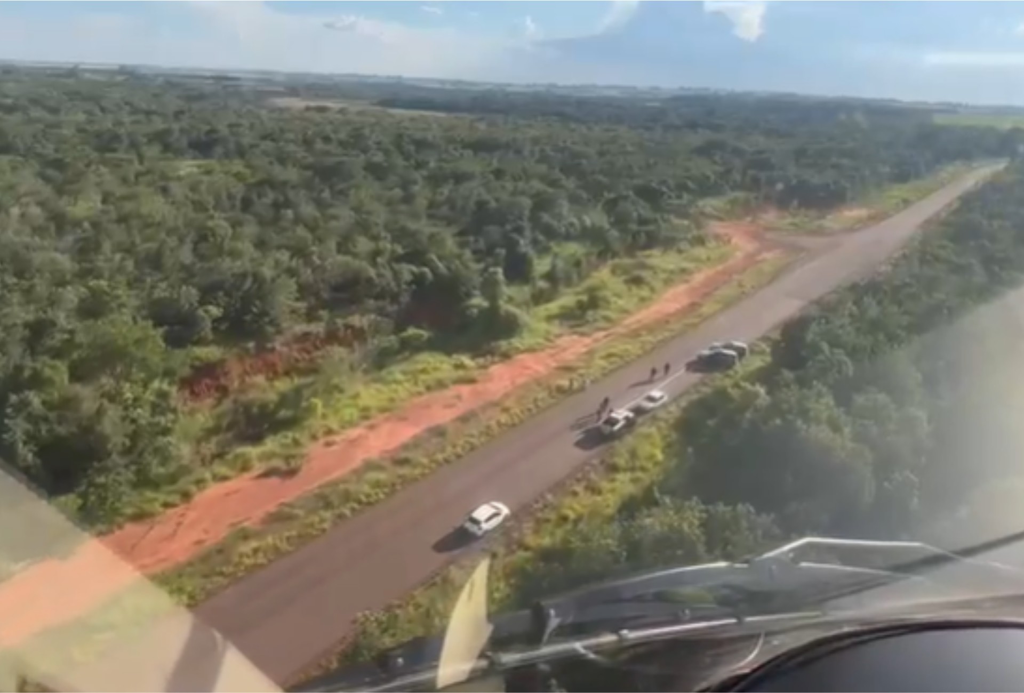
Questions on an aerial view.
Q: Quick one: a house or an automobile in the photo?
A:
automobile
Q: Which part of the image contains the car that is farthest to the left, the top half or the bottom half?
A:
bottom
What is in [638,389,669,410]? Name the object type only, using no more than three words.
car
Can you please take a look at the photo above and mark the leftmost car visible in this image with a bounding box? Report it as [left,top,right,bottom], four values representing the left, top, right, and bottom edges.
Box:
[462,500,512,534]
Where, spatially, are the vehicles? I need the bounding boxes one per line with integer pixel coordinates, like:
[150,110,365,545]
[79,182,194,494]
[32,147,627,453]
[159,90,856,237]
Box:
[462,500,512,534]
[638,389,669,410]
[709,340,753,357]
[597,404,639,434]
[695,348,740,369]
